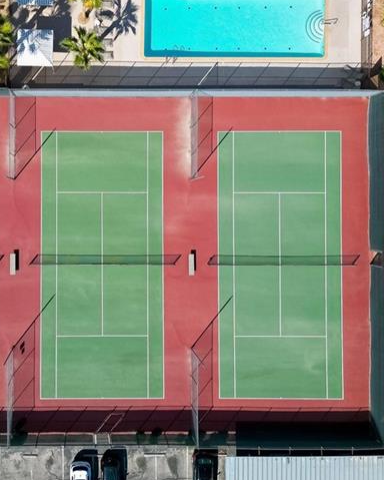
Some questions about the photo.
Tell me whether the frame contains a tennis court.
Yes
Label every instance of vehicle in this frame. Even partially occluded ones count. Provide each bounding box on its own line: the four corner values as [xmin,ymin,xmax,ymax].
[100,451,123,480]
[70,458,92,480]
[192,450,215,480]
